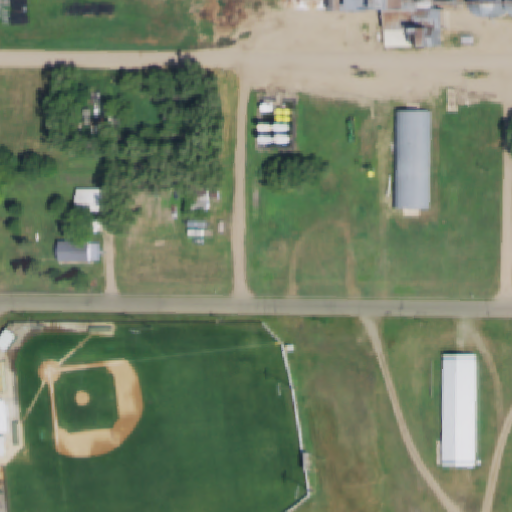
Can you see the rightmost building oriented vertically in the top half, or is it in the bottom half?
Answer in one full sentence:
You can find the rightmost building oriented vertically in the bottom half.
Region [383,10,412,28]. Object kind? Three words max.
barn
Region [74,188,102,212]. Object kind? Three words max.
house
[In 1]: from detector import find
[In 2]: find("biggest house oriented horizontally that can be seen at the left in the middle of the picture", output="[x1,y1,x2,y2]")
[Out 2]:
[56,242,104,264]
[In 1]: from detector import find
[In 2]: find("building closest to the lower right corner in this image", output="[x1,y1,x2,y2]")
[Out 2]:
[442,354,475,466]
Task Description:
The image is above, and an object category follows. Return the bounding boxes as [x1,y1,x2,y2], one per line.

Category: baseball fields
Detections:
[6,322,306,512]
